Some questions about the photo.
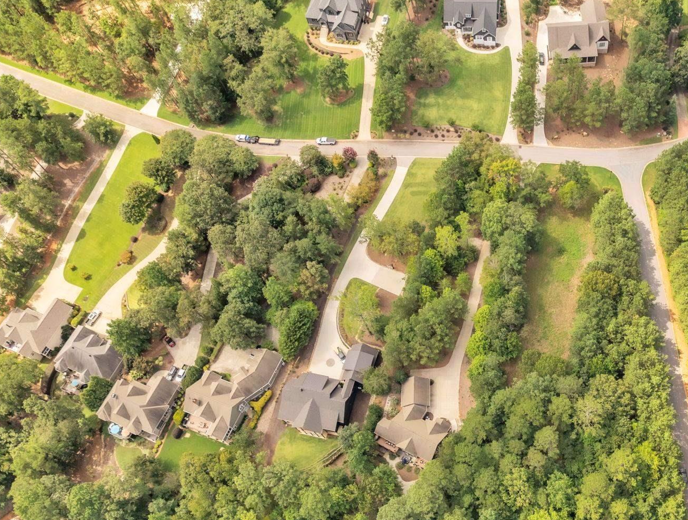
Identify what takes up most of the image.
trees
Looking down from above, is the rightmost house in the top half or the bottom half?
top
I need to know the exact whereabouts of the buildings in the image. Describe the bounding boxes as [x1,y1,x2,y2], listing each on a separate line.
[183,349,285,443]
[0,298,76,365]
[443,0,501,45]
[97,376,184,445]
[54,326,127,397]
[374,376,451,467]
[277,344,380,436]
[306,0,374,41]
[546,0,610,66]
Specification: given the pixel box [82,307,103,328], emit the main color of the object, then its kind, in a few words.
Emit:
white truck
